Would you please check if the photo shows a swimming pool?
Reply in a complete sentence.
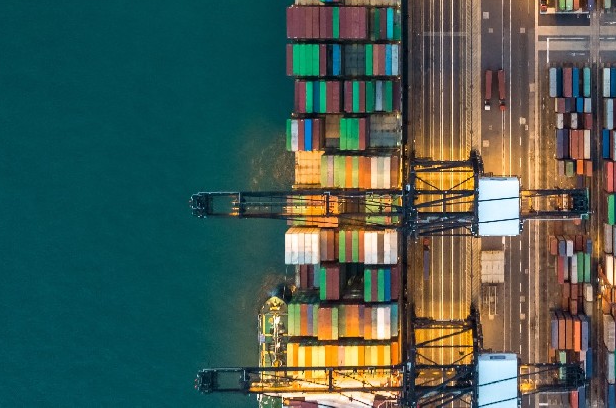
No, the frame has no swimming pool in it.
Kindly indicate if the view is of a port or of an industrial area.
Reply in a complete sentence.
This looks like a port.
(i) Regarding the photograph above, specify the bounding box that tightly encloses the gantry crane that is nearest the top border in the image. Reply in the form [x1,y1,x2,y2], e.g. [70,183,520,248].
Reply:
[186,142,597,238]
